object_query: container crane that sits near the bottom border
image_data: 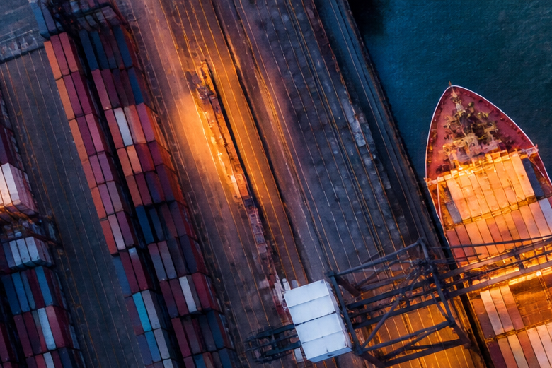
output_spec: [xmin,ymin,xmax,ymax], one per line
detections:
[246,225,552,368]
